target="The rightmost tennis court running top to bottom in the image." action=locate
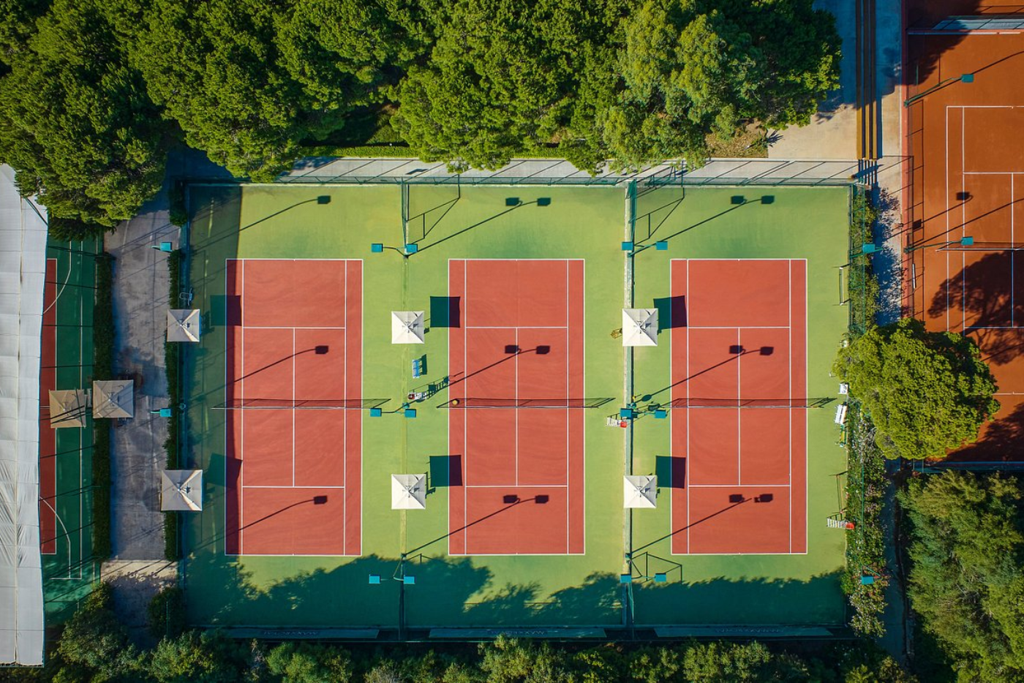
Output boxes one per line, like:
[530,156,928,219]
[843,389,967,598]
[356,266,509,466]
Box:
[909,34,1024,462]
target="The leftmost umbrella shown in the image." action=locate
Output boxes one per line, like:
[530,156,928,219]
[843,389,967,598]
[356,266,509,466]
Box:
[51,389,89,427]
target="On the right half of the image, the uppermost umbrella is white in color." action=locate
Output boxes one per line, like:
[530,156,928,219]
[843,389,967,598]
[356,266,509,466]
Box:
[622,309,658,345]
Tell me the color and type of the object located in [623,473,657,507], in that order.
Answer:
white umbrella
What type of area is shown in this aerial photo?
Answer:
sports ground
